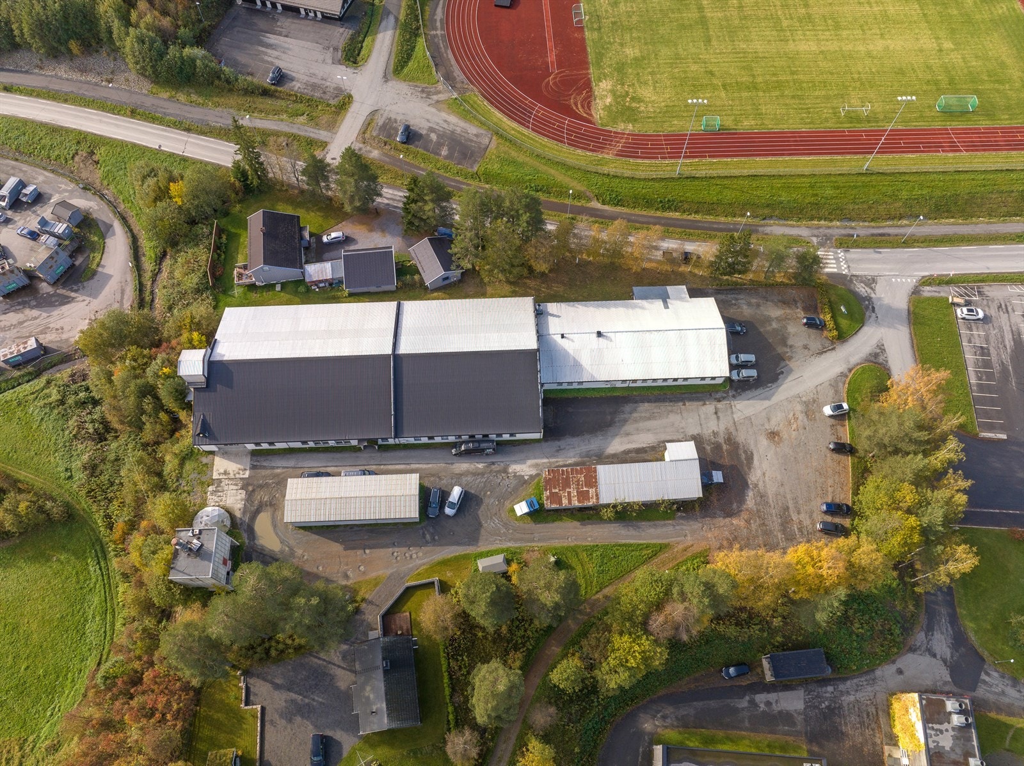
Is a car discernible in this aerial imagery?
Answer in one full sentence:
Yes, you can see a car in this photo.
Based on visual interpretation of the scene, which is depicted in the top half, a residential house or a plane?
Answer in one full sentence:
What appears in the top half is a residential house.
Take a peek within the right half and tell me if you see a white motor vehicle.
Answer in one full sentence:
Yes, there is a white motor vehicle within the right half.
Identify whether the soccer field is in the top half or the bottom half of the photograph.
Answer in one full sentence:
It is in the top half that the soccer field appears.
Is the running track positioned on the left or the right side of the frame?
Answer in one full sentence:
It is on the right.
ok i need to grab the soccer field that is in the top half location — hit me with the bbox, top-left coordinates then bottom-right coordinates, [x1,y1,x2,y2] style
[583,0,1024,133]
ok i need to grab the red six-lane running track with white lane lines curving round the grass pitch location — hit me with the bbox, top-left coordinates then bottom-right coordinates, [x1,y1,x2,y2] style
[445,0,1024,160]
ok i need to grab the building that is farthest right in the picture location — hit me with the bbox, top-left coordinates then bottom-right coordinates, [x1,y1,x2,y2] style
[889,690,985,766]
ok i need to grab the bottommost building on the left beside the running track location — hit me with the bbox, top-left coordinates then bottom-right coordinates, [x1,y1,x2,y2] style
[176,298,544,457]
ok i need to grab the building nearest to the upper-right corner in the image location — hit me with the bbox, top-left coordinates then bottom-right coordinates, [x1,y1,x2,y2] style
[537,284,730,391]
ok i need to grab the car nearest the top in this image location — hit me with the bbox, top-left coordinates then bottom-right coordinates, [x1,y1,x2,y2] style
[268,66,283,85]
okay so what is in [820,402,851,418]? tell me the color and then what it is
white car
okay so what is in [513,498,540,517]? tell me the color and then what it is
white vehicle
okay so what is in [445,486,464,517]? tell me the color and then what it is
white car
